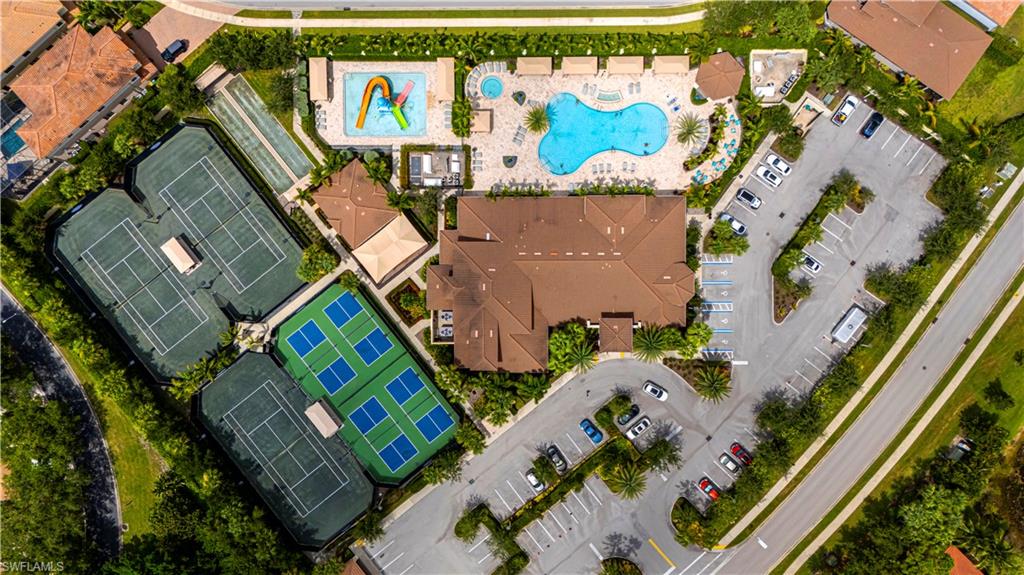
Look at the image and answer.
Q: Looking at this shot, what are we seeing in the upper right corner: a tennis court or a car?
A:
car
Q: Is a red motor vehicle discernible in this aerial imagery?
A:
Yes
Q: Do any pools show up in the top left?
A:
Yes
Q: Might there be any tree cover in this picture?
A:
Yes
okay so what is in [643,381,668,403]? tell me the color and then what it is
white car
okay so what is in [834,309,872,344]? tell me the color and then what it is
white trailer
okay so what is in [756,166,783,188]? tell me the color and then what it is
white car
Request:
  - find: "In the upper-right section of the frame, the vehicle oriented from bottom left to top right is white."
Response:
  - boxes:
[832,94,858,126]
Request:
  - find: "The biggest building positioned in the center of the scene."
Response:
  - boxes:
[426,194,694,372]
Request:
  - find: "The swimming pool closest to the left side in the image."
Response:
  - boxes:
[0,115,29,162]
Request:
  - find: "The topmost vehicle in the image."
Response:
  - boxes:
[161,38,188,62]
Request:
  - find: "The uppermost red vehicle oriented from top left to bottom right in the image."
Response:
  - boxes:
[729,442,751,466]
